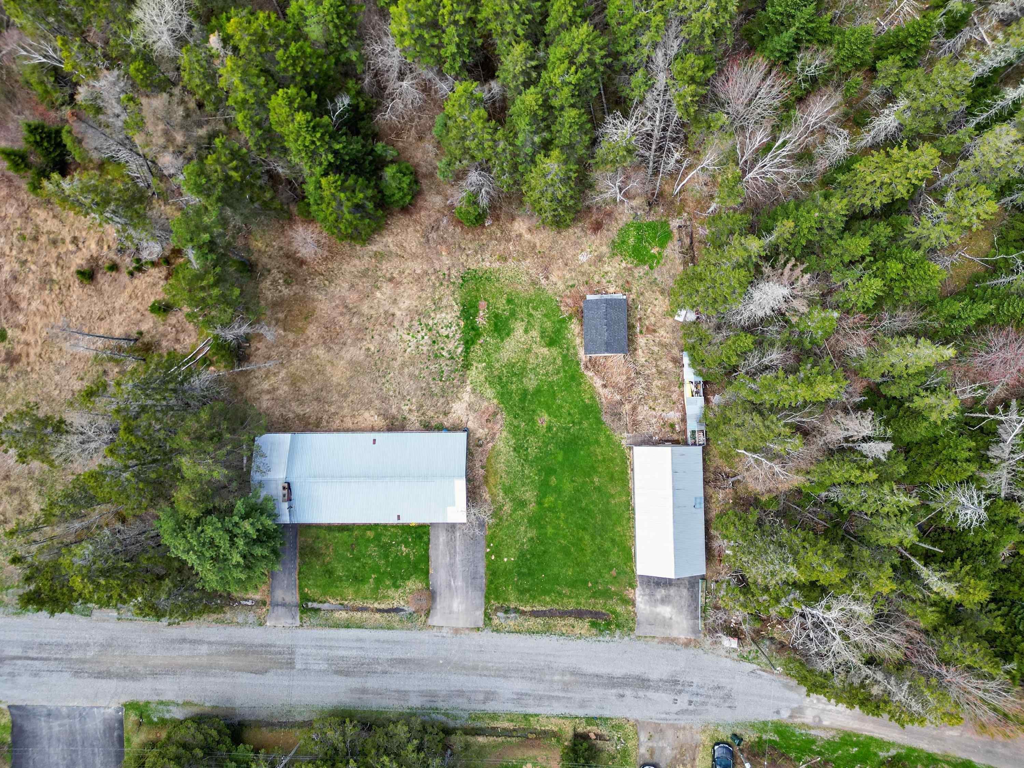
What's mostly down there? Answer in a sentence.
What you mostly see from above here is trees.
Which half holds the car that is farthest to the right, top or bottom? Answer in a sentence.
It is in the bottom half that the car that is farthest to the right appears.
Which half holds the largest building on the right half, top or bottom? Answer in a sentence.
The largest building on the right half sits in the bottom half of the picture.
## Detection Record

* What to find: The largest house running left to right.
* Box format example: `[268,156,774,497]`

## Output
[249,429,472,524]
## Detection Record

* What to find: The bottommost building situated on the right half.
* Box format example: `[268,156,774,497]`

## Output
[630,446,706,579]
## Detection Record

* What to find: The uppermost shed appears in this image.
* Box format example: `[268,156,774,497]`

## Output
[583,294,628,360]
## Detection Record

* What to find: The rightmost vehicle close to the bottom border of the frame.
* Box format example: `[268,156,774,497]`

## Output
[710,738,736,768]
